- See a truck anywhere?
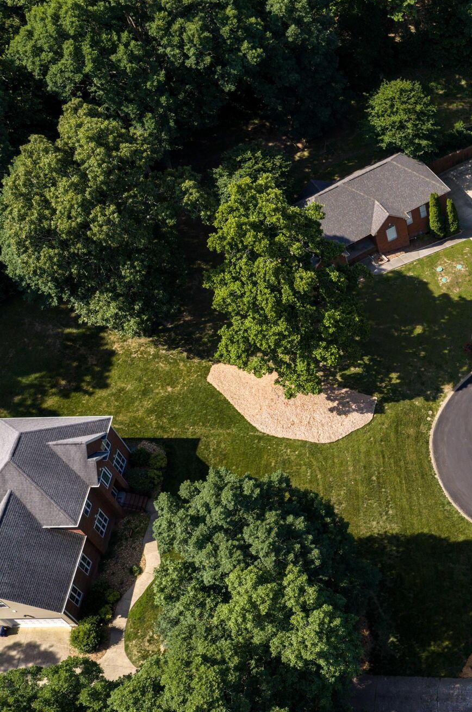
No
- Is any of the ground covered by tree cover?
Yes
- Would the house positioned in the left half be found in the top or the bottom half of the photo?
bottom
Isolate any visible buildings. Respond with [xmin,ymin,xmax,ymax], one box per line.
[254,143,451,280]
[0,415,160,627]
